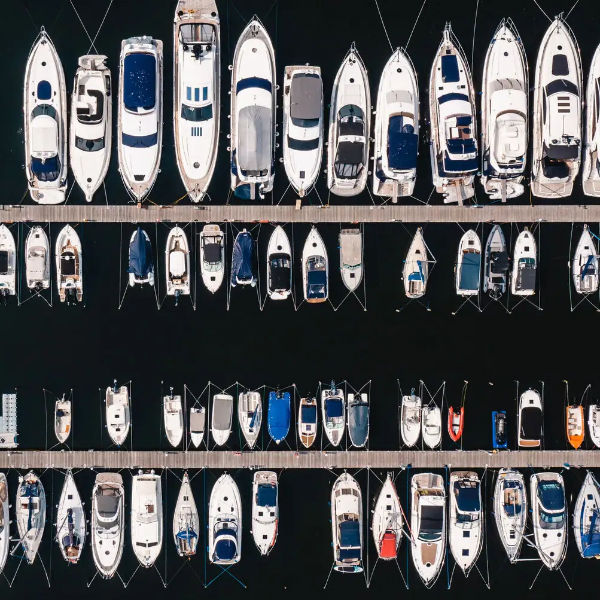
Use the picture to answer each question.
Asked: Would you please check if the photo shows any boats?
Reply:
Yes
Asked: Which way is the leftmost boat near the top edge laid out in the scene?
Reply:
from top to bottom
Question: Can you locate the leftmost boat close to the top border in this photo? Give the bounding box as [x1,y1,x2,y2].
[22,27,67,204]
